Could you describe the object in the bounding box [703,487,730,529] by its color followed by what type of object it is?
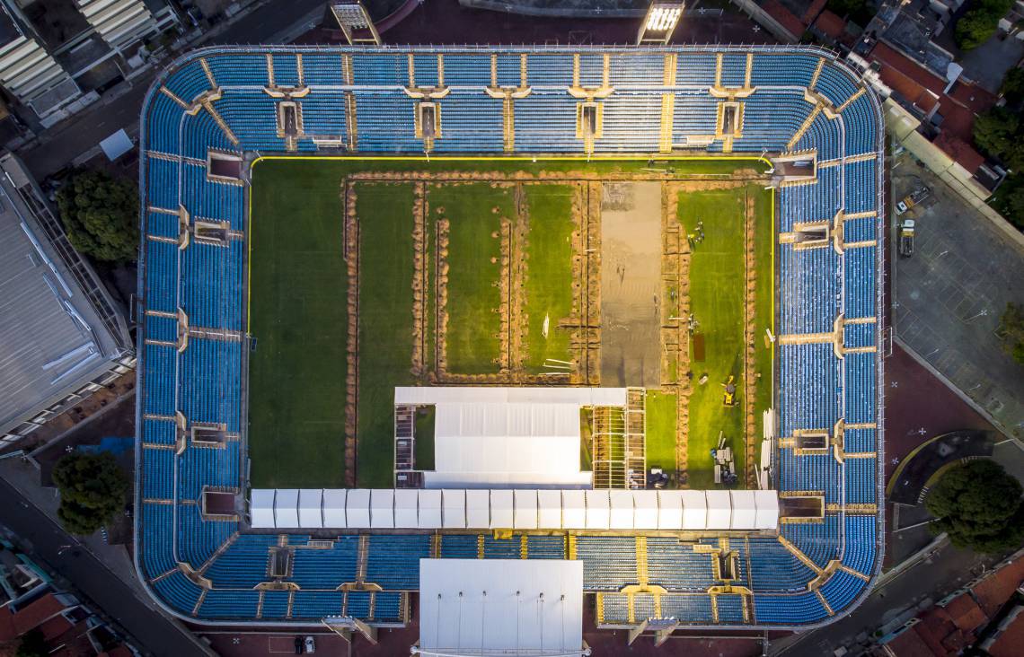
white tent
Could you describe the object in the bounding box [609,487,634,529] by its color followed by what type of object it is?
white tent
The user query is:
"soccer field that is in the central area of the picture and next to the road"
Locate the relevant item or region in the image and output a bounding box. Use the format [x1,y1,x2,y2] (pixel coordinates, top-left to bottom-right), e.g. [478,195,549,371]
[249,159,774,532]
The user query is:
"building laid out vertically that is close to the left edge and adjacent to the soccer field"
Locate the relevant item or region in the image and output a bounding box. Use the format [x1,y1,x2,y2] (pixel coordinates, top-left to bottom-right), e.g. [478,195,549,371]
[0,137,139,448]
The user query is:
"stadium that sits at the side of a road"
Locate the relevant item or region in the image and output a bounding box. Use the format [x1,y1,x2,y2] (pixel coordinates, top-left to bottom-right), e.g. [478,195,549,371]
[133,42,890,657]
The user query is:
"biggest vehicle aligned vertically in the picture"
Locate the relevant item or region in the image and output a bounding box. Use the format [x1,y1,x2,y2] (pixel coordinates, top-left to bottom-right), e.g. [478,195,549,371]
[902,218,919,257]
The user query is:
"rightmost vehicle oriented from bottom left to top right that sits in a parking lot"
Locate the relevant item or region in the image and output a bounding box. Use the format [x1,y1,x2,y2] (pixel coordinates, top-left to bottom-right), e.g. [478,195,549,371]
[894,182,934,216]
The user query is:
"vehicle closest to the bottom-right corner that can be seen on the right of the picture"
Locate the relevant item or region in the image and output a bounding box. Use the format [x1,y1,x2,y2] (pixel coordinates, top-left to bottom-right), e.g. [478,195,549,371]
[723,375,739,404]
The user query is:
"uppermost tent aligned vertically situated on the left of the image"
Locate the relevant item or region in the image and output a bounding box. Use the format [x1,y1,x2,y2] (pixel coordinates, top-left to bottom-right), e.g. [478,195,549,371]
[395,404,418,472]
